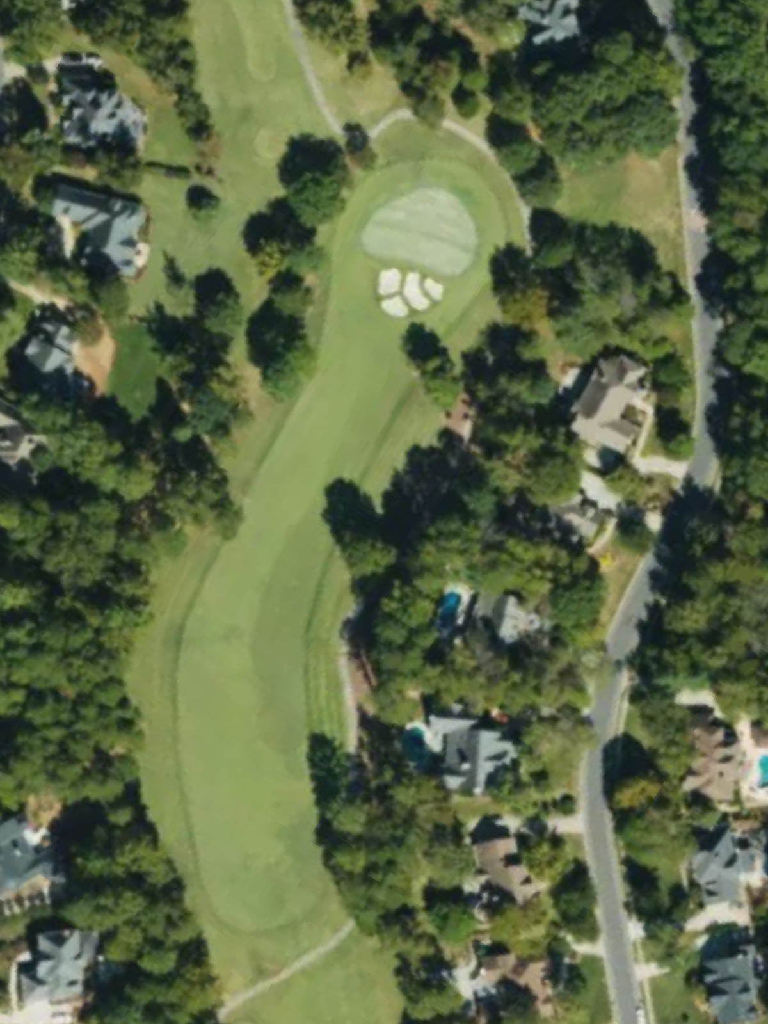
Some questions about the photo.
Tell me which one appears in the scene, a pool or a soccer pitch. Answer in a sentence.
This aerial view contains a pool.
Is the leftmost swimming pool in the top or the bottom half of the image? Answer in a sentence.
You can find the leftmost swimming pool in the bottom half.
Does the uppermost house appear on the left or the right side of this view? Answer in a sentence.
The uppermost house appears in the right half of the scene.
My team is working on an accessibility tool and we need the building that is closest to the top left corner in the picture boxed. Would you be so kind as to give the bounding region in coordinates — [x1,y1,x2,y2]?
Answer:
[57,74,145,148]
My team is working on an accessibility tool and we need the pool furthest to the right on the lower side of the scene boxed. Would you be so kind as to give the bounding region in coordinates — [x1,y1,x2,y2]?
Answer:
[734,715,768,810]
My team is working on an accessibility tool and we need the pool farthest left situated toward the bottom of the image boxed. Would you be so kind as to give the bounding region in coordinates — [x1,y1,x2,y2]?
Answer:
[398,722,443,772]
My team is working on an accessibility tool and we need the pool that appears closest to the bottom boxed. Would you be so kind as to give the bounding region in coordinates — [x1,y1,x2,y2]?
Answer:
[472,937,488,959]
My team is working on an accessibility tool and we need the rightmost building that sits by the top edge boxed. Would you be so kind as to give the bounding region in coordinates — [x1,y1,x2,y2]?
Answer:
[518,0,582,47]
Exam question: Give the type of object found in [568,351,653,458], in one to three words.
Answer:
house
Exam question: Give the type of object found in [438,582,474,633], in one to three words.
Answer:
swimming pool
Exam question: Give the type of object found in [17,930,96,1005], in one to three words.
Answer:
house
